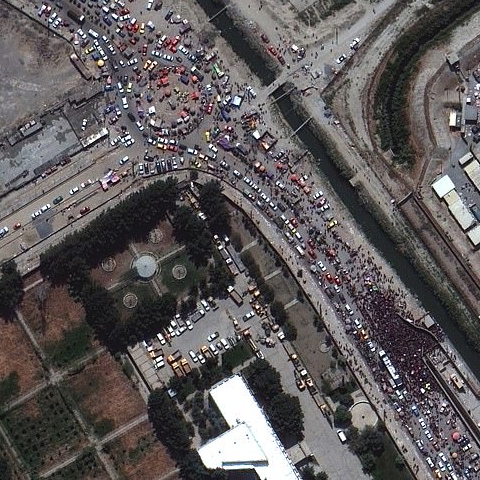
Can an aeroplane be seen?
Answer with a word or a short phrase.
No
